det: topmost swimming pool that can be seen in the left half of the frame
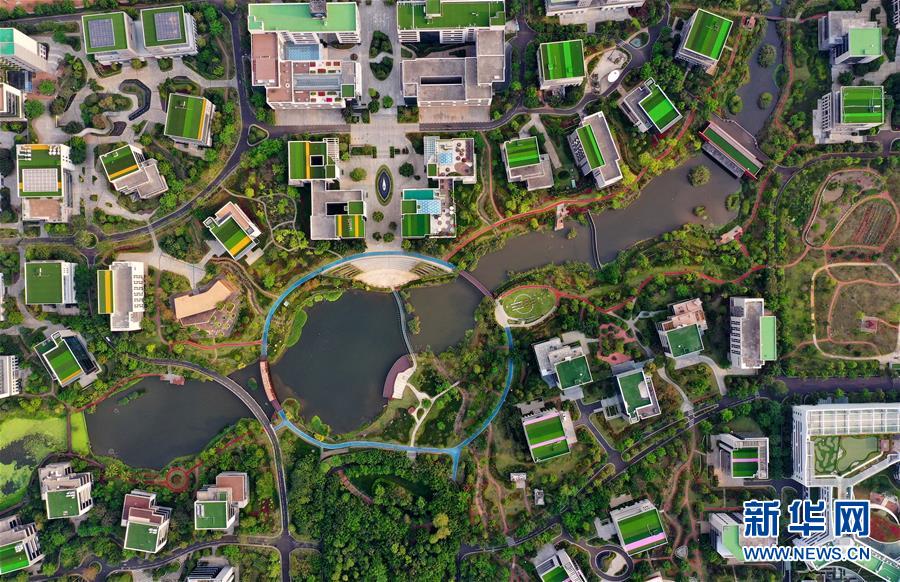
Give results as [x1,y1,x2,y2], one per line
[287,47,319,60]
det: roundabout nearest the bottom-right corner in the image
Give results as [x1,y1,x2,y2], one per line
[589,545,634,581]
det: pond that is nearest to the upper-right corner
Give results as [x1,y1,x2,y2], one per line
[729,0,788,156]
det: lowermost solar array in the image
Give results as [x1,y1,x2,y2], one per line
[22,168,59,192]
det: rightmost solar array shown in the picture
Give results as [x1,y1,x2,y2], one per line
[154,11,182,42]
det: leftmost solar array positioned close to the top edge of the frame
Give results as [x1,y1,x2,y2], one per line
[88,18,116,48]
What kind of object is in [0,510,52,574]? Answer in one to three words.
building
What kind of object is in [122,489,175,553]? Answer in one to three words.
building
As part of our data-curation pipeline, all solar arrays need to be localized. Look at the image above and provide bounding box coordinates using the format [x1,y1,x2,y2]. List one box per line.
[88,18,116,48]
[154,11,182,42]
[22,168,59,192]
